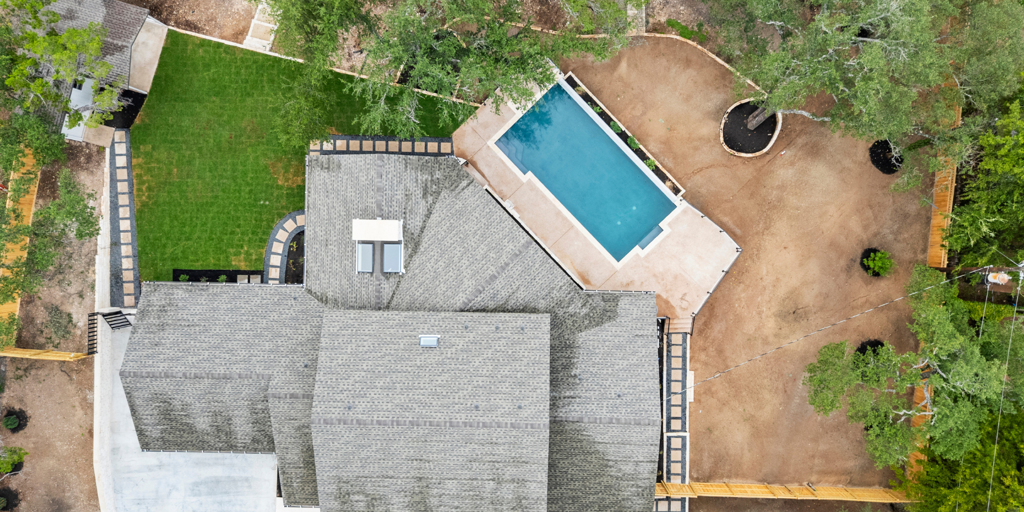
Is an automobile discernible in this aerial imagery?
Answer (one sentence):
No, the photo shows no automobile.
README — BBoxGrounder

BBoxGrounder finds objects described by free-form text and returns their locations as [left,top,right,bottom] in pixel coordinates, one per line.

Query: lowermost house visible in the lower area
[120,153,663,512]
